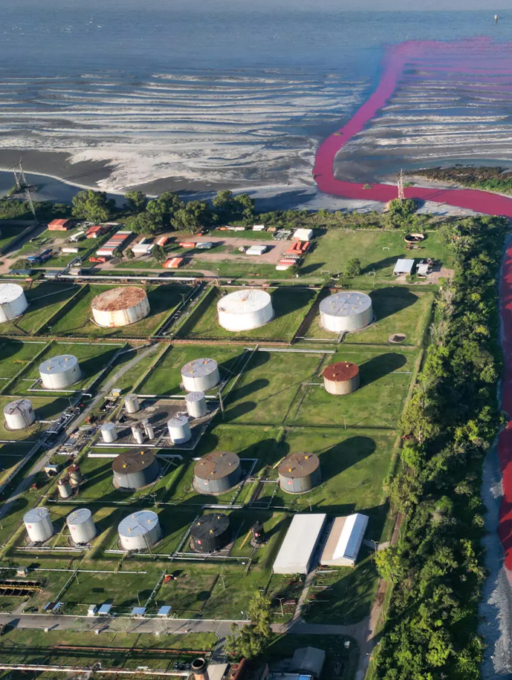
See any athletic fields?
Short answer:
Yes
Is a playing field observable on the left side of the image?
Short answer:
No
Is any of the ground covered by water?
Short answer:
Yes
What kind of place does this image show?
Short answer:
industrial area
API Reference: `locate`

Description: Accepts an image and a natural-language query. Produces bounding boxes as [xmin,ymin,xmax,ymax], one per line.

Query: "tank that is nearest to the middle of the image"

[217,287,278,334]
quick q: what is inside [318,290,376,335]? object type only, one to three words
storage tank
